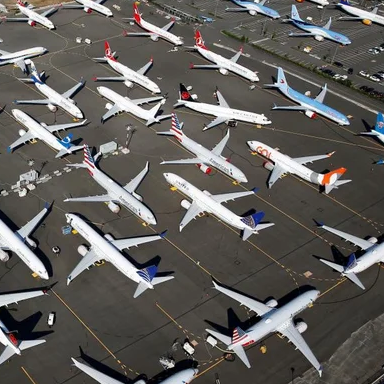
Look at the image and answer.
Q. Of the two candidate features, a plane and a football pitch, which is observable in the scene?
plane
